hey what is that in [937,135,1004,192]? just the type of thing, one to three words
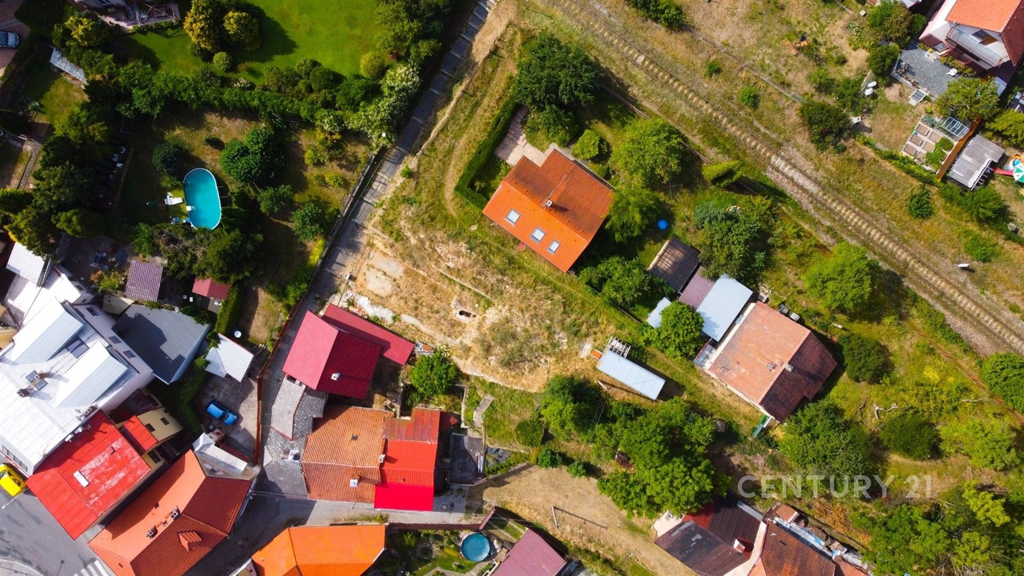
building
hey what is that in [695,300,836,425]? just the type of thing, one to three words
house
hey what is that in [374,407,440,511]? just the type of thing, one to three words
house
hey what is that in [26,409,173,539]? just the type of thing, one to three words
building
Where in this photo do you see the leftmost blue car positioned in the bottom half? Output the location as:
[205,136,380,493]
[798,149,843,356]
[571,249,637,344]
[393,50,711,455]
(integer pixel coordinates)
[201,401,237,426]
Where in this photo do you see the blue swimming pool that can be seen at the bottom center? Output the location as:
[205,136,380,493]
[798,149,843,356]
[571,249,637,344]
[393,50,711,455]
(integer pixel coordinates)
[461,532,490,562]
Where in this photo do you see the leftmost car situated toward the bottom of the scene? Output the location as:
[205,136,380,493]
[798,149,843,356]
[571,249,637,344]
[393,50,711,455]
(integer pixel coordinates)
[0,462,22,499]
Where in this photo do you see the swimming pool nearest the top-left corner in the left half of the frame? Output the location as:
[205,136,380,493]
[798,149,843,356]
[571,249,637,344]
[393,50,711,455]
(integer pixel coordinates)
[184,168,233,228]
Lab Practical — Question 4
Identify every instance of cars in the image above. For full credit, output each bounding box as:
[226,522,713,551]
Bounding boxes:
[201,401,237,426]
[0,26,18,48]
[0,462,22,499]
